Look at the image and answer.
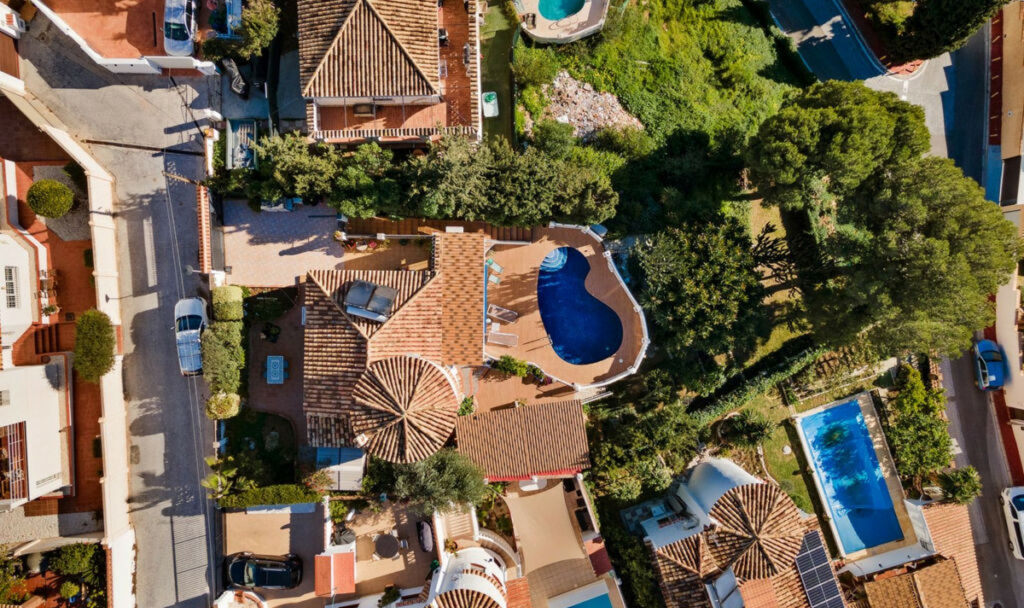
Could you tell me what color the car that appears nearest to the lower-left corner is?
black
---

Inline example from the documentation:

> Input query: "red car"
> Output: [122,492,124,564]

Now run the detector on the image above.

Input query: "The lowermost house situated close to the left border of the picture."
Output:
[0,352,72,508]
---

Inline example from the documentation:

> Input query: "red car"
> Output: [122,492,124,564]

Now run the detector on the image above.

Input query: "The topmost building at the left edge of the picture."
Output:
[0,4,41,88]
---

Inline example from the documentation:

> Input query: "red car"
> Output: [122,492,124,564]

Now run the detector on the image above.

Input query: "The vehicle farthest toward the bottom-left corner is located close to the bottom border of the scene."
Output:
[229,543,309,586]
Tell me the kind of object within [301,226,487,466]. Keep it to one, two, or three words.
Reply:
house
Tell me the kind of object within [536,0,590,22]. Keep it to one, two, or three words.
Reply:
swimming pool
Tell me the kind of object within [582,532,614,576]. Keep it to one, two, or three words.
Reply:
shed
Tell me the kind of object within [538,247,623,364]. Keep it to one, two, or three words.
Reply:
swimming pool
